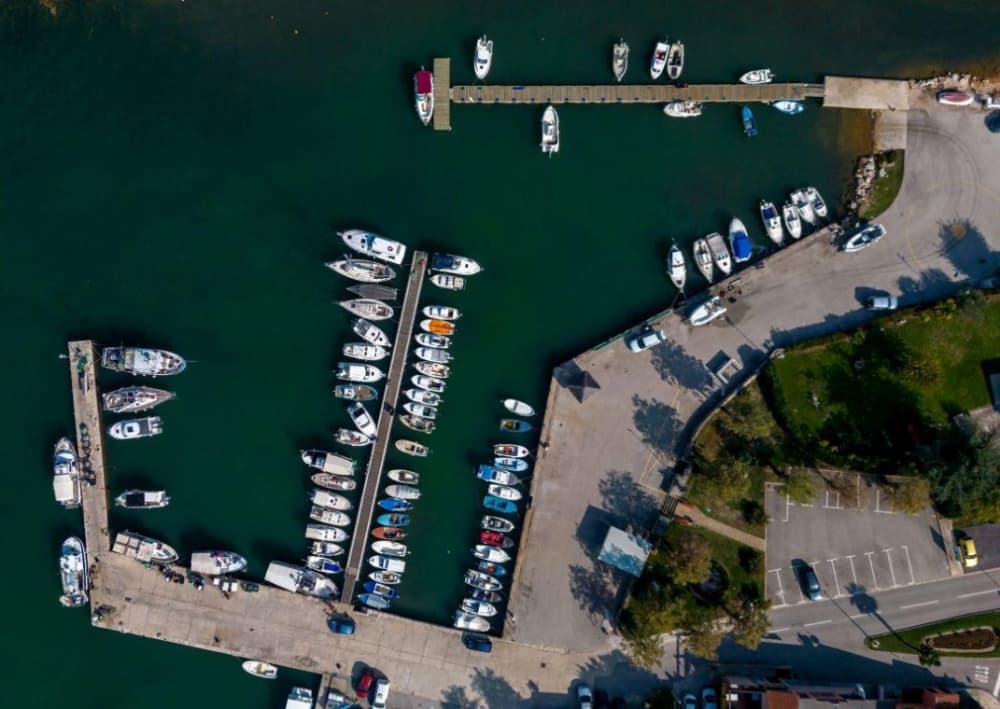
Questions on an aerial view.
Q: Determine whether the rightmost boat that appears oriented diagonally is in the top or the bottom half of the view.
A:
top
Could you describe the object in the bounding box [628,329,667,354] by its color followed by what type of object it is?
white car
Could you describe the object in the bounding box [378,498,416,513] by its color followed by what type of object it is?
blue boat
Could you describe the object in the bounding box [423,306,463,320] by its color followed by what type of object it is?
white boat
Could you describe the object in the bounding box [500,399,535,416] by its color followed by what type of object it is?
white boat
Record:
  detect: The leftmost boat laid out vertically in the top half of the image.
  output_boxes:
[412,66,434,125]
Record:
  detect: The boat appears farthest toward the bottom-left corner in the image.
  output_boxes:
[60,536,90,607]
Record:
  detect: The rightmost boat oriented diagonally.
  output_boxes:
[845,221,888,252]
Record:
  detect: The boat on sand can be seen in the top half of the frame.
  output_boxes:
[938,90,975,105]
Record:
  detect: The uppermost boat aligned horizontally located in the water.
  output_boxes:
[739,70,775,85]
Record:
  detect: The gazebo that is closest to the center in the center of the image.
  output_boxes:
[568,371,600,402]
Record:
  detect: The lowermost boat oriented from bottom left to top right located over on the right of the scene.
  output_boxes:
[690,298,727,326]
